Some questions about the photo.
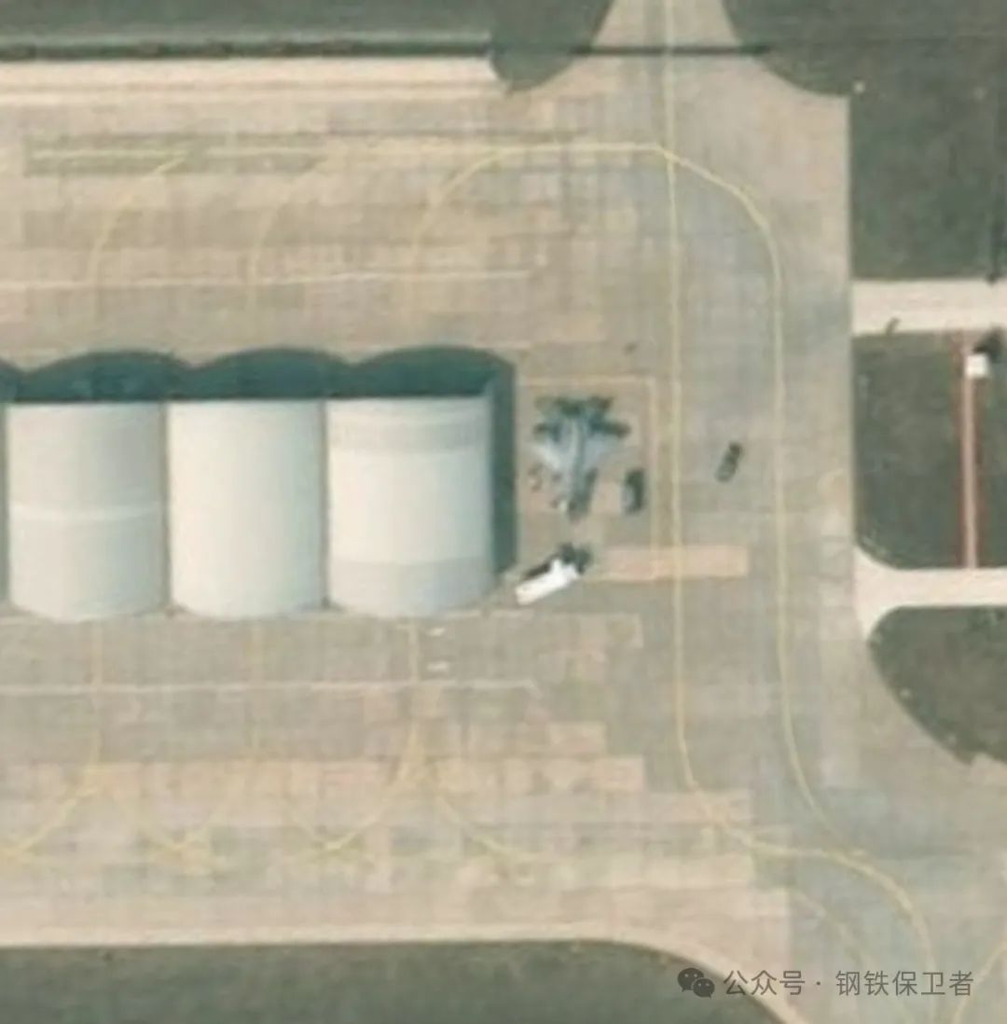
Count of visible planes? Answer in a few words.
one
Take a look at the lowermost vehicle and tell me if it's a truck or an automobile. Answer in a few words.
truck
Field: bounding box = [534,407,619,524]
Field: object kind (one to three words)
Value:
airplane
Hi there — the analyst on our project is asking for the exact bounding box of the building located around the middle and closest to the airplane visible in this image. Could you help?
[326,391,493,614]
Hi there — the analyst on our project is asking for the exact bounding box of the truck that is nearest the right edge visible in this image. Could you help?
[718,447,741,481]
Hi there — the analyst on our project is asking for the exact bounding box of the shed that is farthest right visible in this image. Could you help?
[966,351,987,375]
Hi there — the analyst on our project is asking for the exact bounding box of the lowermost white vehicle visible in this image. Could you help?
[515,552,583,603]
